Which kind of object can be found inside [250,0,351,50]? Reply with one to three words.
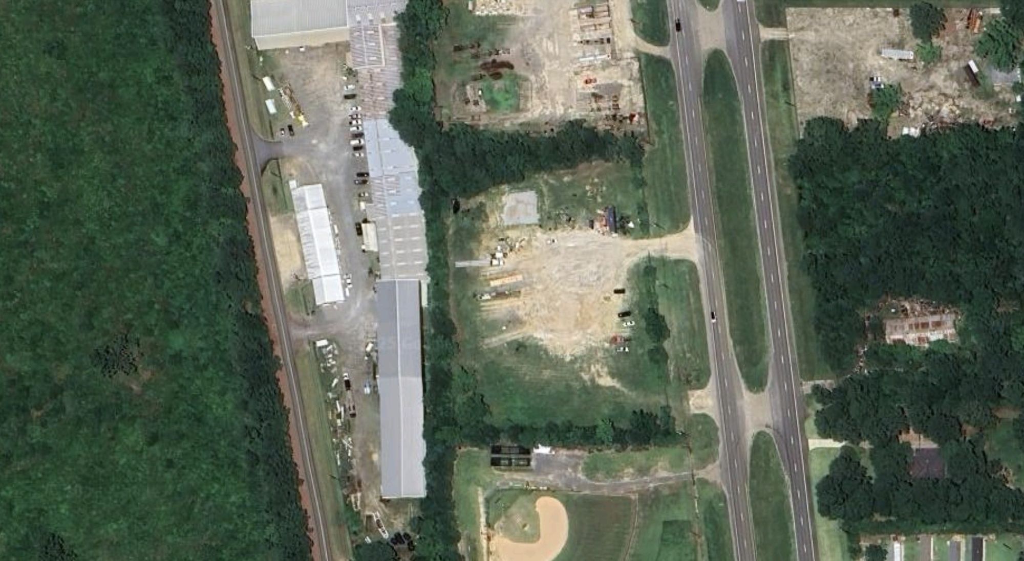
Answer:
building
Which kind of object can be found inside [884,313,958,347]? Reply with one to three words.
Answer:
barn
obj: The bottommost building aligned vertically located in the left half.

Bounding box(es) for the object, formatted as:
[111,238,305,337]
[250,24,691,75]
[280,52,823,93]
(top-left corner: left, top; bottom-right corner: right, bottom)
[376,280,427,498]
